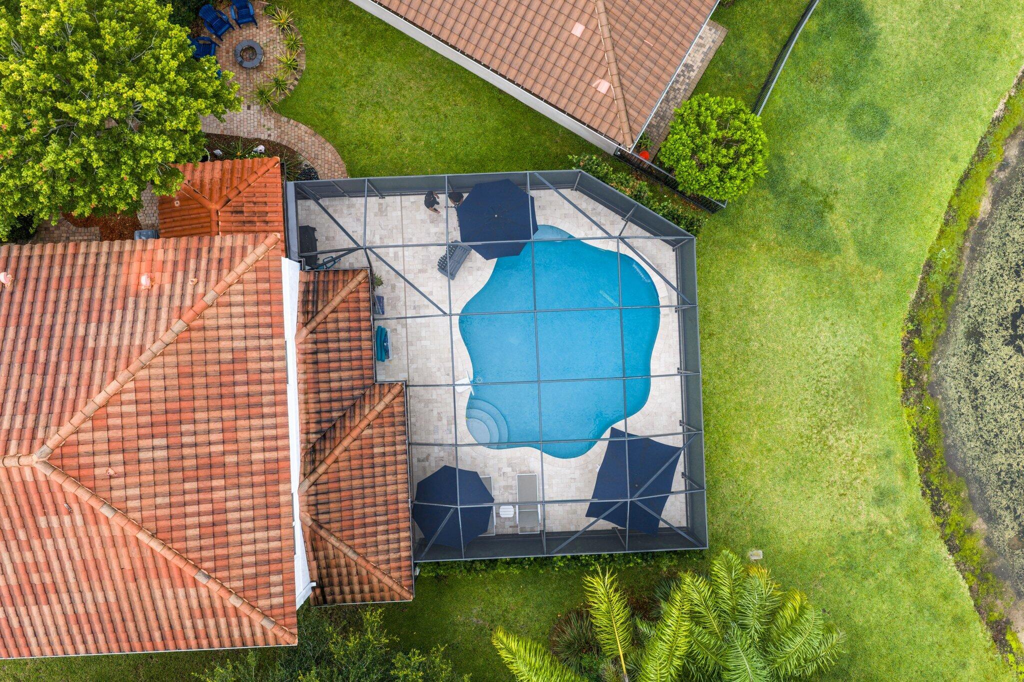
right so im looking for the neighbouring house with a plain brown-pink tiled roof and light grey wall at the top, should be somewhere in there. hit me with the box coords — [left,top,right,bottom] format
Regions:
[365,0,719,151]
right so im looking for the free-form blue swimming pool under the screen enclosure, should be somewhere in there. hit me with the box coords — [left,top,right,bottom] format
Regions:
[451,215,669,467]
